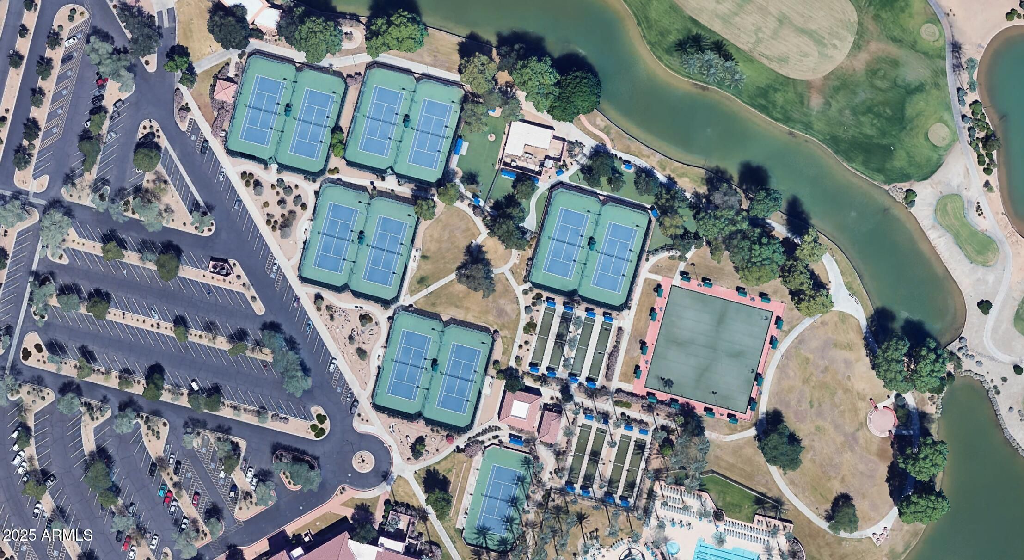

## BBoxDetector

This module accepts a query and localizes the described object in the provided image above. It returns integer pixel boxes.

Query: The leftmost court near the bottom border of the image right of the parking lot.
[463,447,535,553]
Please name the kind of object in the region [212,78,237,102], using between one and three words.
building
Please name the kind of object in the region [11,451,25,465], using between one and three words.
car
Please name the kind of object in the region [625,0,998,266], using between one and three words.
golf course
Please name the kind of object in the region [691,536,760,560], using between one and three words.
swimming pool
